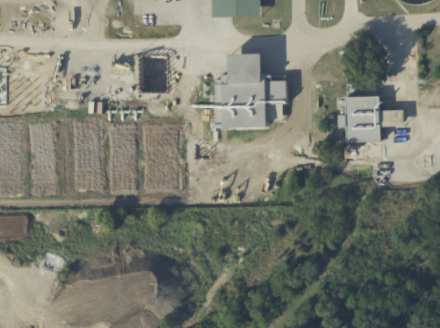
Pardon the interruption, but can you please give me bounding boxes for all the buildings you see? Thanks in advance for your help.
[338,97,404,142]
[214,54,287,130]
[212,0,260,18]
[44,253,66,272]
